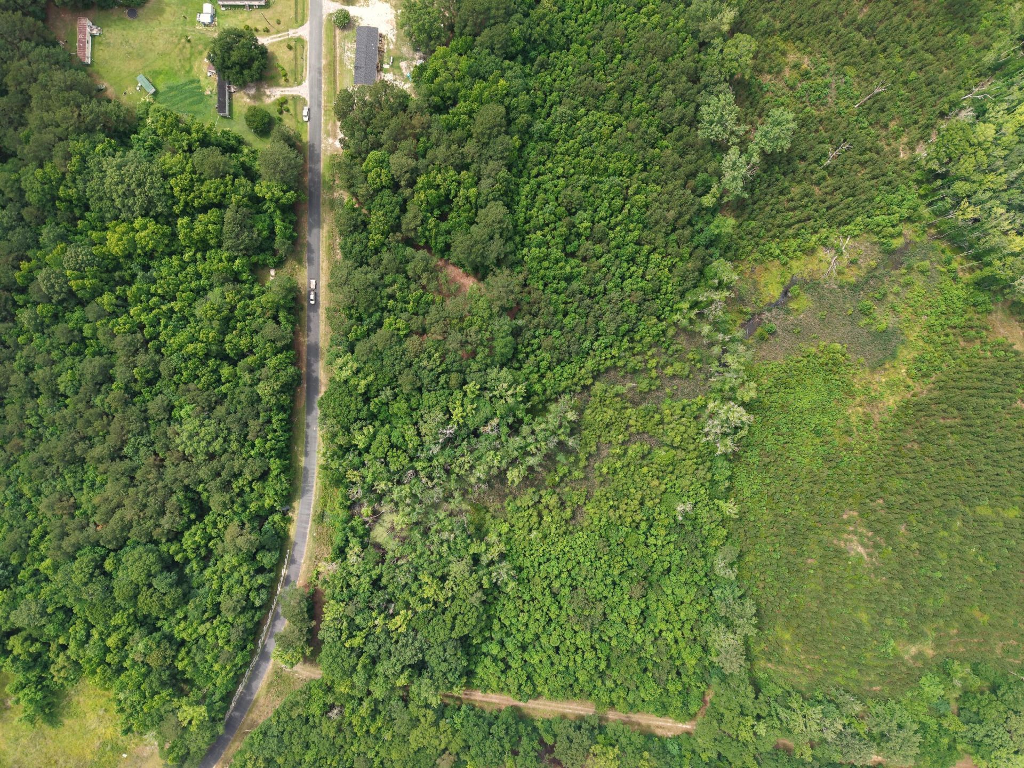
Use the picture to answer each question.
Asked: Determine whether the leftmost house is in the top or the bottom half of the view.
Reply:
top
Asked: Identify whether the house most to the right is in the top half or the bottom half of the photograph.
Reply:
top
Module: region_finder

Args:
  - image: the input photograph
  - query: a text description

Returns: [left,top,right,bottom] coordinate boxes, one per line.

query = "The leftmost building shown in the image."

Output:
[77,17,103,65]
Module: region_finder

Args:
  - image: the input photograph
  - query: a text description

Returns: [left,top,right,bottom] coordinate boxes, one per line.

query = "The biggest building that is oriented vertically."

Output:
[354,25,385,88]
